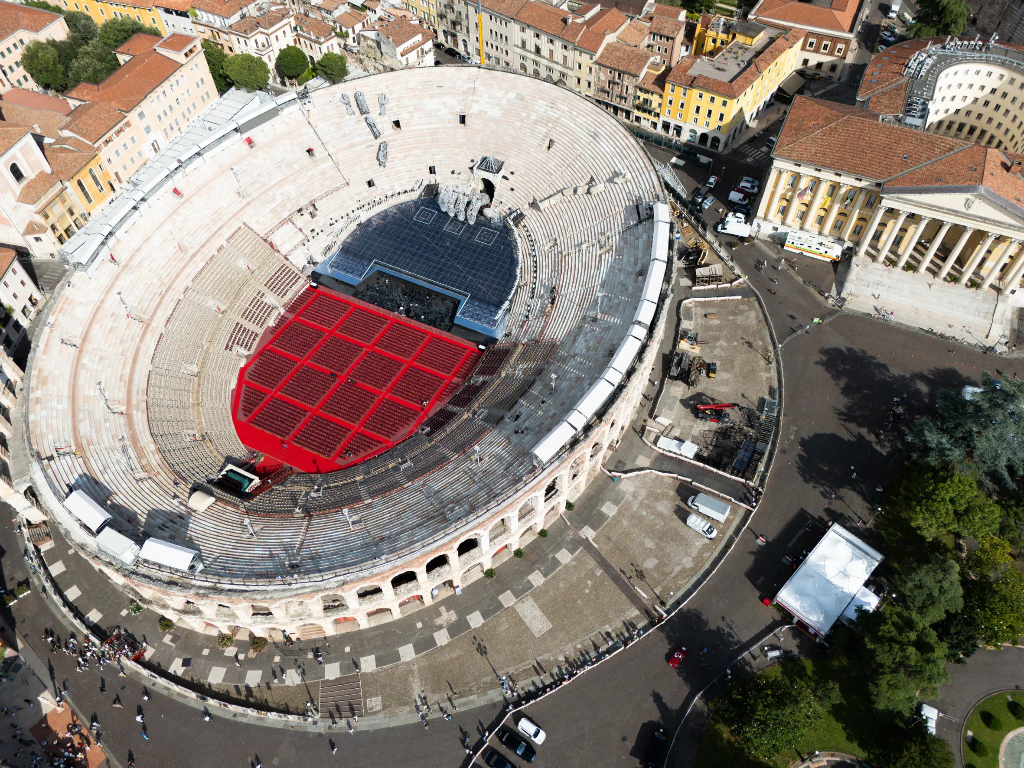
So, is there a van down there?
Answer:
Yes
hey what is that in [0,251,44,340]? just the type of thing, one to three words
house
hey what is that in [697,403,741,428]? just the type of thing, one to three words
vehicle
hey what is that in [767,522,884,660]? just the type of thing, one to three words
tent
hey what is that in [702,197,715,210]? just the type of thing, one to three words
vehicle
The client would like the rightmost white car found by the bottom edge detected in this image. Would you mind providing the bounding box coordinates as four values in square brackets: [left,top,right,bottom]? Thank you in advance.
[514,714,549,749]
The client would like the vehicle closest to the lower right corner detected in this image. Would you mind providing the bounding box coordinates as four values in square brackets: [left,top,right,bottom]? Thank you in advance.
[669,641,692,671]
